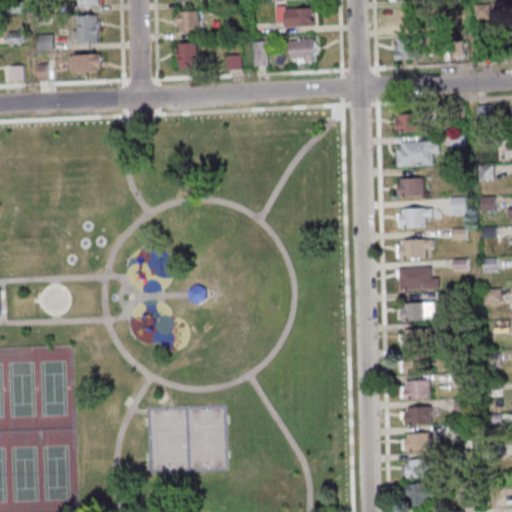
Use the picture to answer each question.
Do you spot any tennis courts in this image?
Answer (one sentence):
Yes, there's a tennis court here.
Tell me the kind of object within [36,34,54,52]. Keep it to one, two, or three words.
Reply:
building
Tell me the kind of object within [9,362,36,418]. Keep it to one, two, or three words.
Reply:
tennis court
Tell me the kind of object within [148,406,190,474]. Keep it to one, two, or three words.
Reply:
basketball court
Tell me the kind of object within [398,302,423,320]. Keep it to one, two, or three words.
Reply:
house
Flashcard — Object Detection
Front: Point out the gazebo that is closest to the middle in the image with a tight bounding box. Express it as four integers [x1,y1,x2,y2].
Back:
[188,284,207,305]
